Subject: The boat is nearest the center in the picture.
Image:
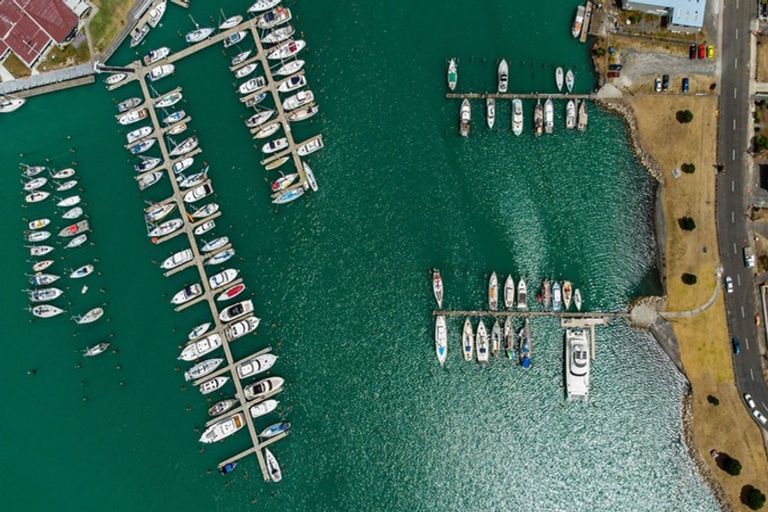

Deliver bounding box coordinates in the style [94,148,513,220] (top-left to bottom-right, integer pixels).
[431,269,443,309]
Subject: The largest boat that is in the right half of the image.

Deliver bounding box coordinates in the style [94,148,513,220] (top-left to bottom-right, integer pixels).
[564,327,592,402]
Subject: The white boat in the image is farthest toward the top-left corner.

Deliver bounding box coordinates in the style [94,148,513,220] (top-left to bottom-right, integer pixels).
[0,94,27,115]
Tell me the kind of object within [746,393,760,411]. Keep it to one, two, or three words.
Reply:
car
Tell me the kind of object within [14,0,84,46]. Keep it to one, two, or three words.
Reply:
building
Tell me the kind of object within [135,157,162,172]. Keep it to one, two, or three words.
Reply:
boat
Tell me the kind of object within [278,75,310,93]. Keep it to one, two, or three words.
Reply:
boat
